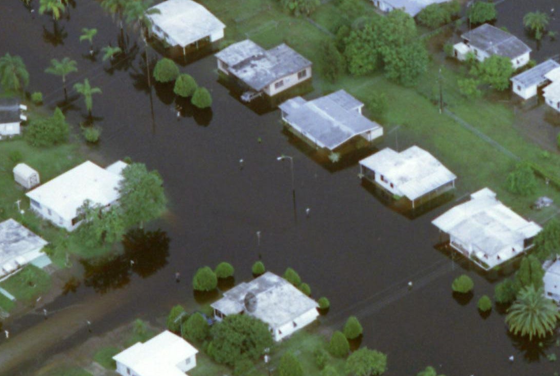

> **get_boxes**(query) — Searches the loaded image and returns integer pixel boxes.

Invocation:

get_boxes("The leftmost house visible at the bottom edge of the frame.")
[111,328,197,376]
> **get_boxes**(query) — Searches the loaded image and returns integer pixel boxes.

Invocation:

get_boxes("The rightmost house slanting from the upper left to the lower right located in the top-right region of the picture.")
[467,21,530,72]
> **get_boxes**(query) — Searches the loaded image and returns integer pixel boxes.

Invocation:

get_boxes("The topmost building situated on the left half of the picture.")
[150,0,227,59]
